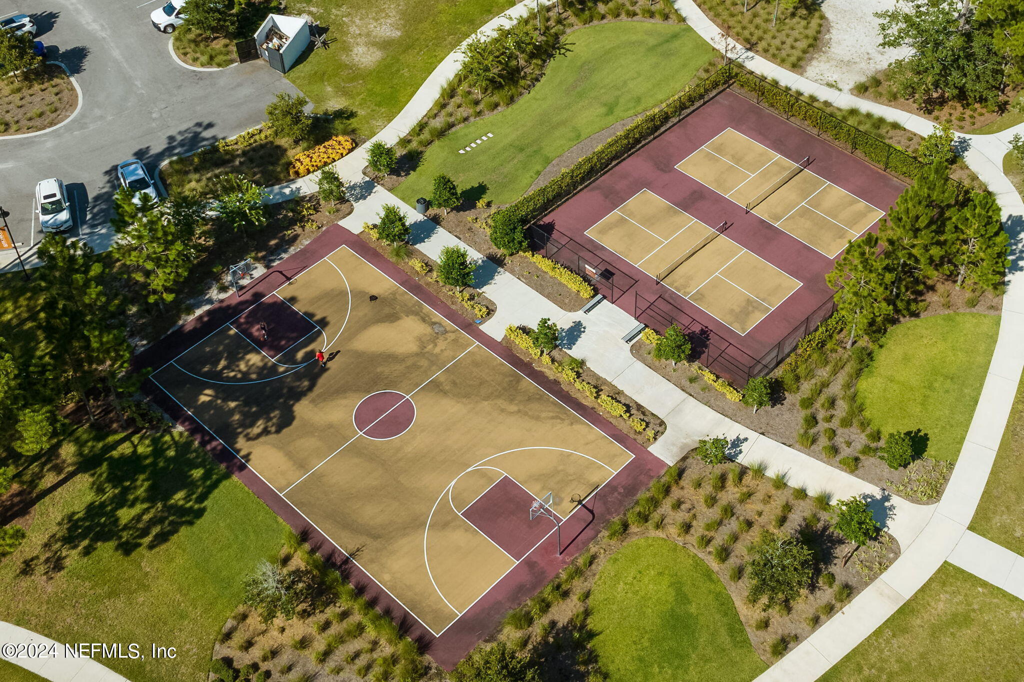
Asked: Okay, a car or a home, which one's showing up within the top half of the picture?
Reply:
car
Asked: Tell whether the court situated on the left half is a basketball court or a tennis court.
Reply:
basketball court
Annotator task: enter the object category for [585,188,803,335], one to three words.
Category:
sports court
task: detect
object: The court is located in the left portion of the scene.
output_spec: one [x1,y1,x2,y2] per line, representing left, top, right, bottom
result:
[128,223,671,671]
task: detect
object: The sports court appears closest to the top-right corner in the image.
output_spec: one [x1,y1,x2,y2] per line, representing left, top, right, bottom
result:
[675,127,885,258]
